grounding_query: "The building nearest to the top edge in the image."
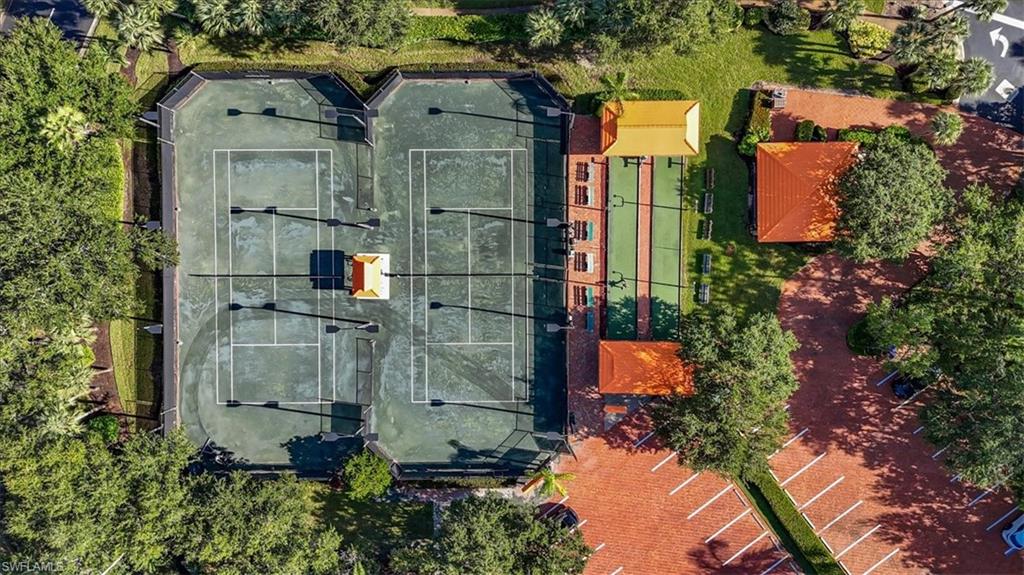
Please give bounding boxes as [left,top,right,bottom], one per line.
[599,101,699,158]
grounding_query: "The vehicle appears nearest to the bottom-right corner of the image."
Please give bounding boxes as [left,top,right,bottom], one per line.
[1002,519,1024,551]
